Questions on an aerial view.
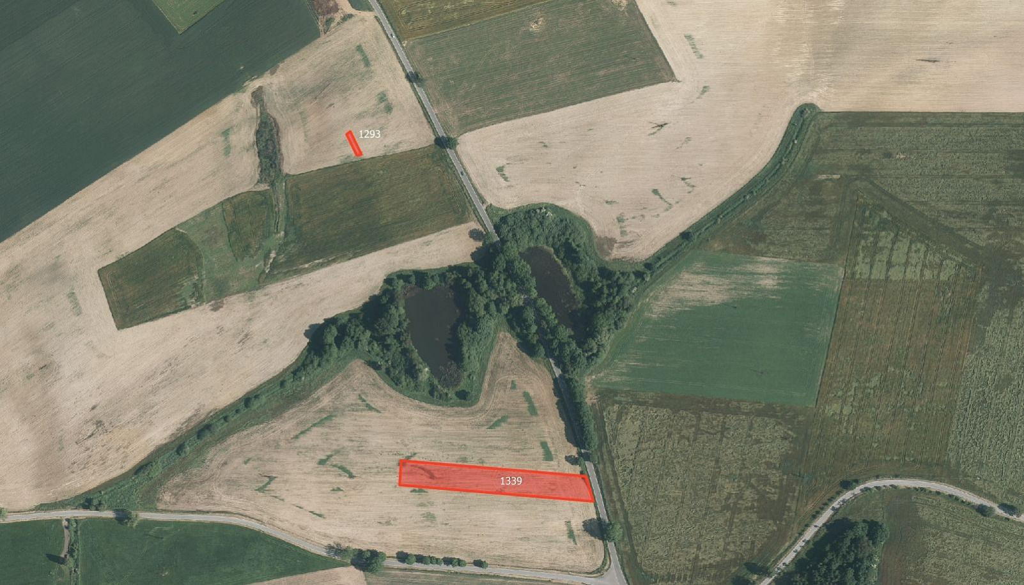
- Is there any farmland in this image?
Yes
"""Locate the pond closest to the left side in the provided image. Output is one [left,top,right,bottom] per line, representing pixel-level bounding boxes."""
[404,286,471,390]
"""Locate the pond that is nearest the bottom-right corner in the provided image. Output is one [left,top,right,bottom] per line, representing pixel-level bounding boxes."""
[522,244,582,342]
